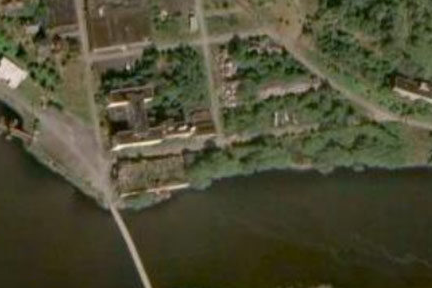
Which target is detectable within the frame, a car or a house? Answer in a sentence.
The image shows a house.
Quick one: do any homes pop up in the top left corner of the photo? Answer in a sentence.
Yes, a home can be seen in the top left corner of the photo.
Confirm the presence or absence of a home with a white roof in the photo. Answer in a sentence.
Yes, there's a home with a white roof here.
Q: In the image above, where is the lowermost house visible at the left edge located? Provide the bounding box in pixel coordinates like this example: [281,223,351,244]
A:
[0,57,28,91]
